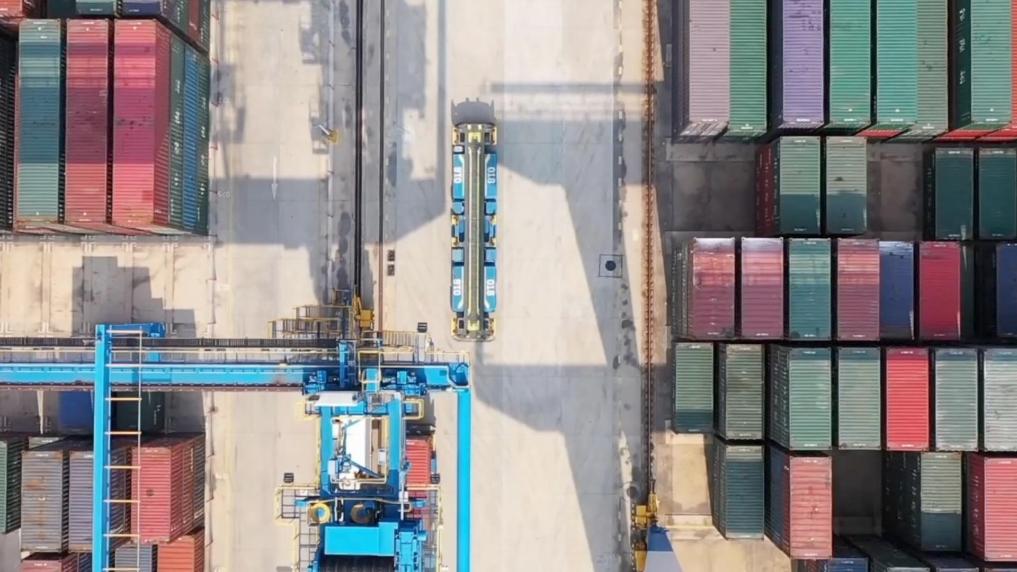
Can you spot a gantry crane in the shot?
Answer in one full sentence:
Yes, looking at the shot, I can spot a gantry crane.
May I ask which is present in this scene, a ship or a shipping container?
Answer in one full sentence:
It is a shipping container that can be seen here.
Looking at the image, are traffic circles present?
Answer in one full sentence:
No, no traffic circle is visible in the scene.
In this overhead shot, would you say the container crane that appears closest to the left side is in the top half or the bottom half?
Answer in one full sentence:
The bottom half of the photo is where the container crane that appears closest to the left side is.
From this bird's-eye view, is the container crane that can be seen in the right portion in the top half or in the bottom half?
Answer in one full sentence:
The container crane that can be seen in the right portion sits in the bottom half of the picture.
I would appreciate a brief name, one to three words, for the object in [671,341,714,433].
shipping container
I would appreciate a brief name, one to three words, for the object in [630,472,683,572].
container crane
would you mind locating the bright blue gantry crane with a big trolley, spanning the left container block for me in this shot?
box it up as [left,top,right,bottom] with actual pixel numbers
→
[0,280,471,572]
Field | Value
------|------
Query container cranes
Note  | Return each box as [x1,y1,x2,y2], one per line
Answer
[630,472,683,572]
[0,280,471,572]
